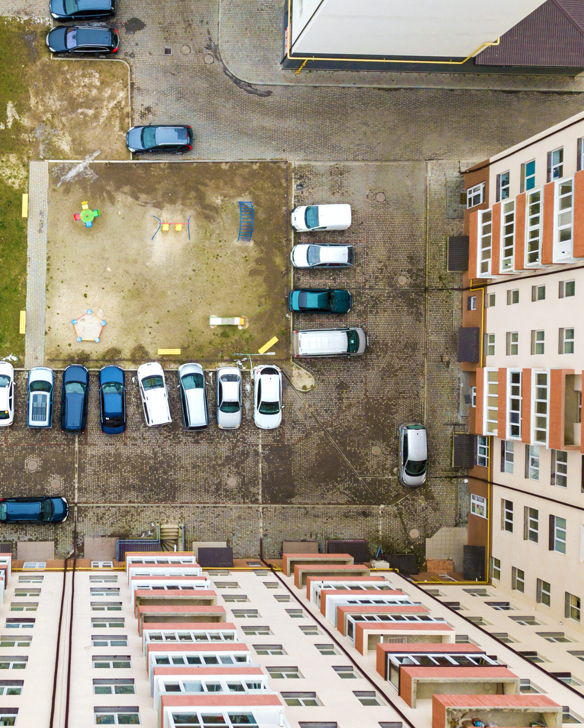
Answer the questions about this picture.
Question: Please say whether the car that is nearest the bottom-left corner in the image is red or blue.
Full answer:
The car that is nearest the bottom-left corner is blue.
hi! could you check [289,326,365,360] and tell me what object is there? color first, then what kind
white vehicle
